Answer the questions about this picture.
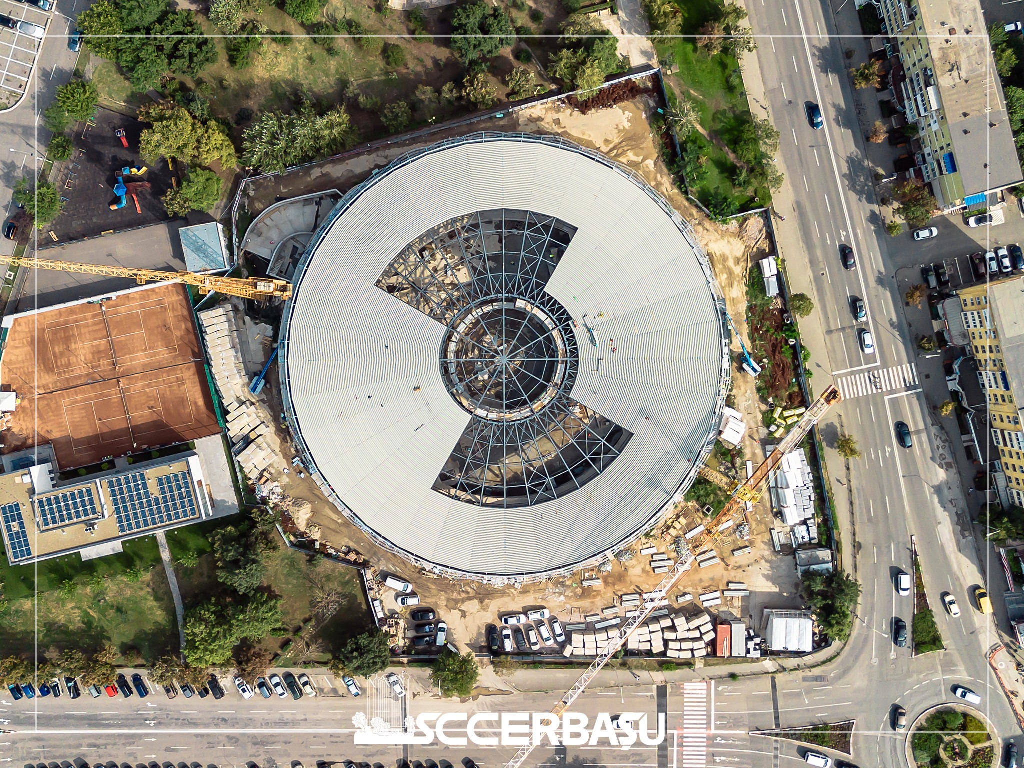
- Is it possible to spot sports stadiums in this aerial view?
Yes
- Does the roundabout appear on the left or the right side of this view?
right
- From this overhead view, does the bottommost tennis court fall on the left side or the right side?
left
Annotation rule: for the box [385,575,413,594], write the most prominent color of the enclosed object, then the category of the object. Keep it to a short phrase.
white vehicle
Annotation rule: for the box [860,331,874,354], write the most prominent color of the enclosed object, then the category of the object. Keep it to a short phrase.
white car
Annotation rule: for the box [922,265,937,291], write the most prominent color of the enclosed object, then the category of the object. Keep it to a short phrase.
black car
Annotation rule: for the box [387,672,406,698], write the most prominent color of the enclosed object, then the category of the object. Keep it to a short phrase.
white car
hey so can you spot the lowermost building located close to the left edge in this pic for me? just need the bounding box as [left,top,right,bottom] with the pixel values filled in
[0,453,228,568]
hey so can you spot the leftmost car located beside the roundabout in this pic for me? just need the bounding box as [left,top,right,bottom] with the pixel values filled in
[894,707,908,732]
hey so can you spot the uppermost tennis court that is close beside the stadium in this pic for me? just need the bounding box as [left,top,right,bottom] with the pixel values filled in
[0,286,199,400]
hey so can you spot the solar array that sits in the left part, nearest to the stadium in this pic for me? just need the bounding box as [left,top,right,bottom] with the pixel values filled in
[107,471,196,534]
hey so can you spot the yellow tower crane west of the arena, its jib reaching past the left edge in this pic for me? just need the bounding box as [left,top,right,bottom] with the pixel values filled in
[0,256,306,327]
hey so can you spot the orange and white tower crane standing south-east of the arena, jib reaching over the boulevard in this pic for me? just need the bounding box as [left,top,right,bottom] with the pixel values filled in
[500,382,846,768]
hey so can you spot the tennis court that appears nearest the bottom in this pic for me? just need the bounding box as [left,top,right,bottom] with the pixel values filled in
[0,361,221,464]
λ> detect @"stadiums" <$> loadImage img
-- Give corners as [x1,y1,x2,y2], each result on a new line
[277,131,732,586]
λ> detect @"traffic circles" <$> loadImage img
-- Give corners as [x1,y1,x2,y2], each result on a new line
[906,703,1002,768]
